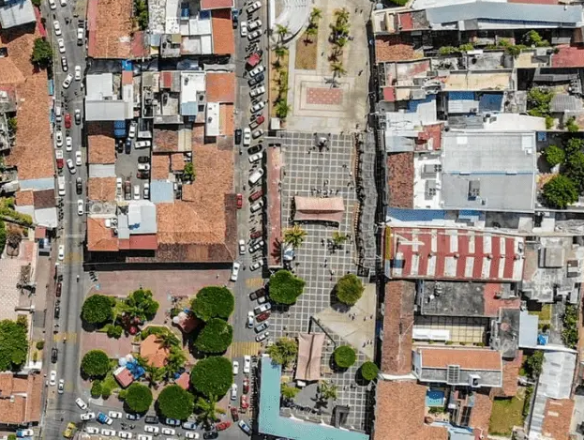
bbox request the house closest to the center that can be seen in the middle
[265,143,283,266]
